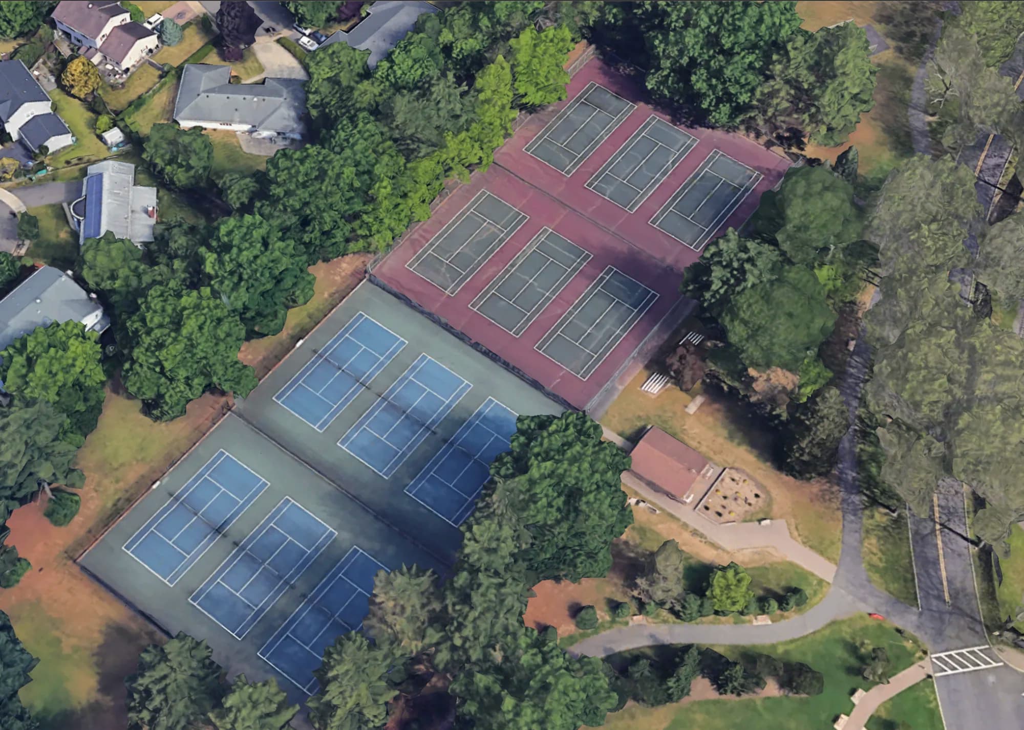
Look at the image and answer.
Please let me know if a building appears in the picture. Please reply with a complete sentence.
Yes, the frame does contain a building.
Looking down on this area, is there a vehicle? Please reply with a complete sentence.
Yes, there is a vehicle in the image.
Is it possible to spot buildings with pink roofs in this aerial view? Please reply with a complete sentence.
Yes, the image includes a building with a pink roof.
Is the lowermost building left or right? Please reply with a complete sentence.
The lowermost building sits on the right side.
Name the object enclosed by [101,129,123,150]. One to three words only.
shed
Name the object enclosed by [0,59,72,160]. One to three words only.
house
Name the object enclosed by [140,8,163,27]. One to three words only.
car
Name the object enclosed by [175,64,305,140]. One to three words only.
house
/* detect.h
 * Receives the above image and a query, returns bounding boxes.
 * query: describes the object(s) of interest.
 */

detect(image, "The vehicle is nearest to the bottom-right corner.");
[628,491,662,515]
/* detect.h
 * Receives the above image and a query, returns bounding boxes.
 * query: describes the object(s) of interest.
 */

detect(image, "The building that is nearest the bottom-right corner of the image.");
[628,426,710,495]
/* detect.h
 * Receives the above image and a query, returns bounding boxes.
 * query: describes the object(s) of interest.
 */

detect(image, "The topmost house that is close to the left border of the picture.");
[51,0,160,73]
